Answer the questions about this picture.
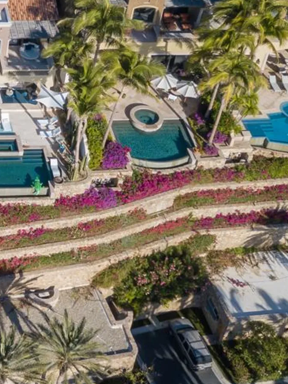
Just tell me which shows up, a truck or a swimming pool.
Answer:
swimming pool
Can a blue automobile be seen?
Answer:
No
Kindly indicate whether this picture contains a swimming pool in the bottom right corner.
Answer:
No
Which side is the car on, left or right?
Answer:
right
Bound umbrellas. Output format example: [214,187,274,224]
[147,76,179,108]
[173,82,202,114]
